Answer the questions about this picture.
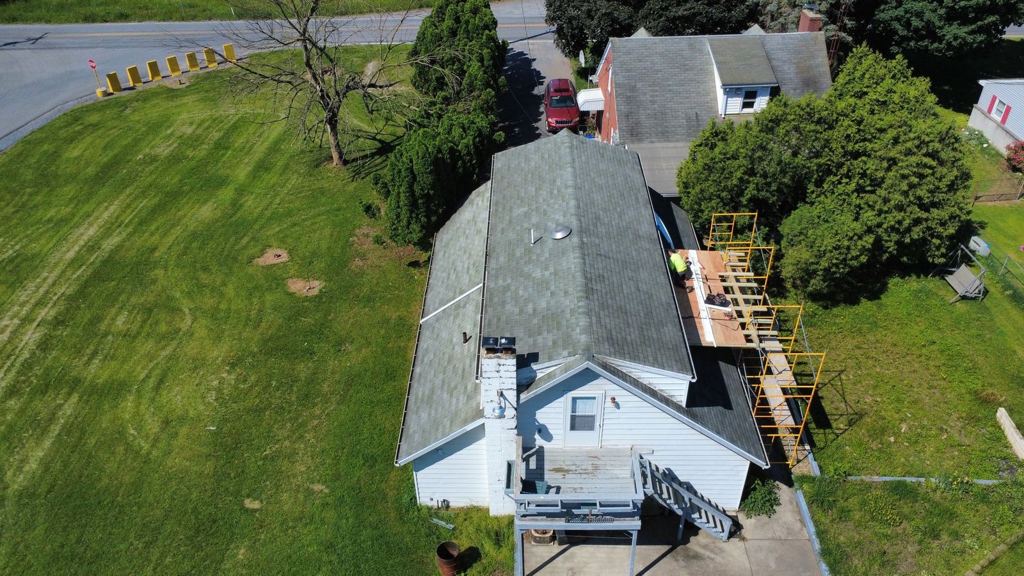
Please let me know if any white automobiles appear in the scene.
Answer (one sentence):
No, there's no white automobile here.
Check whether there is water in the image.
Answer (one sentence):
No, the picture contains no water.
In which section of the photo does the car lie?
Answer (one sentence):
Look in the top portion of the view to spot the car.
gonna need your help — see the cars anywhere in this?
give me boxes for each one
[543,77,581,129]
